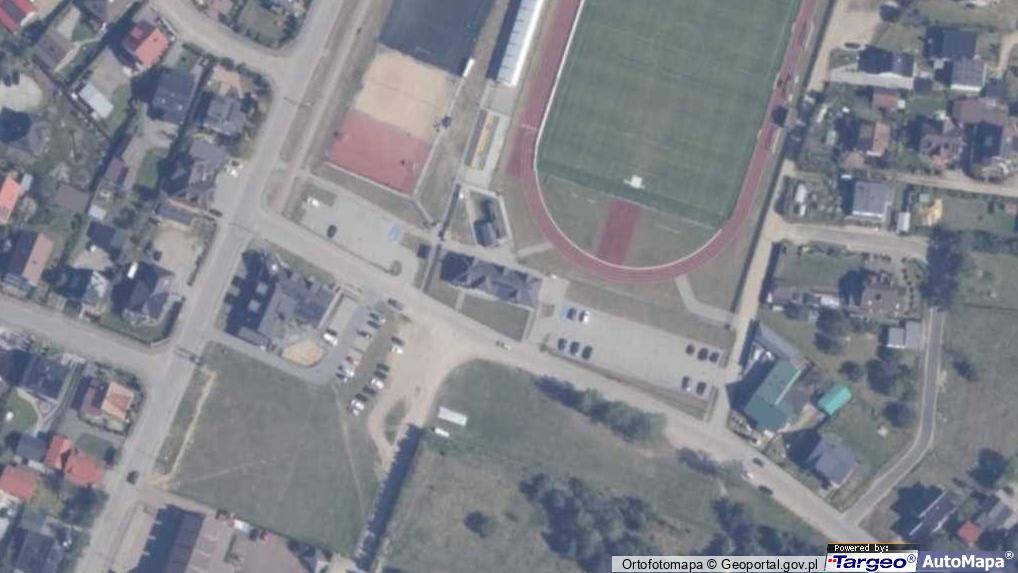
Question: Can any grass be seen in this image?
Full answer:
Yes, grass can be seen from above here.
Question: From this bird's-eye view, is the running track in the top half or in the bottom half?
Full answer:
It is in the top half that the running track appears.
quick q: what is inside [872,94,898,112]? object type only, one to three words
shed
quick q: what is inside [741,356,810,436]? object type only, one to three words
building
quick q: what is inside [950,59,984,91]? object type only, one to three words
house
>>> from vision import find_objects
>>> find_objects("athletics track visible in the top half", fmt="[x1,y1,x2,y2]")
[505,0,809,284]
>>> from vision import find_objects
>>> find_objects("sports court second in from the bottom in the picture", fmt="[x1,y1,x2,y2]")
[353,42,462,142]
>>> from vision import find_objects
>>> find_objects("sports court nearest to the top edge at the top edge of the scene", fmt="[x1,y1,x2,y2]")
[379,0,494,76]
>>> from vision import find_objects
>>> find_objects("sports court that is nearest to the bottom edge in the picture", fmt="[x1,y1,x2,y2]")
[329,107,437,194]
